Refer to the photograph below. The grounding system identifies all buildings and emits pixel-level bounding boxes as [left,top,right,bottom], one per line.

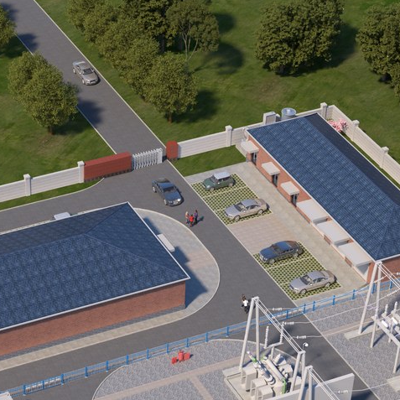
[236,112,400,287]
[0,202,191,359]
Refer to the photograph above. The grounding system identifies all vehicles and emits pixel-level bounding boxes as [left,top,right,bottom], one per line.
[258,236,307,263]
[202,164,241,190]
[72,59,99,84]
[222,194,270,218]
[287,265,337,291]
[145,176,182,206]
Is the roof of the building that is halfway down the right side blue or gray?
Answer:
blue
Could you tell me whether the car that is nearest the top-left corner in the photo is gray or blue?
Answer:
gray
